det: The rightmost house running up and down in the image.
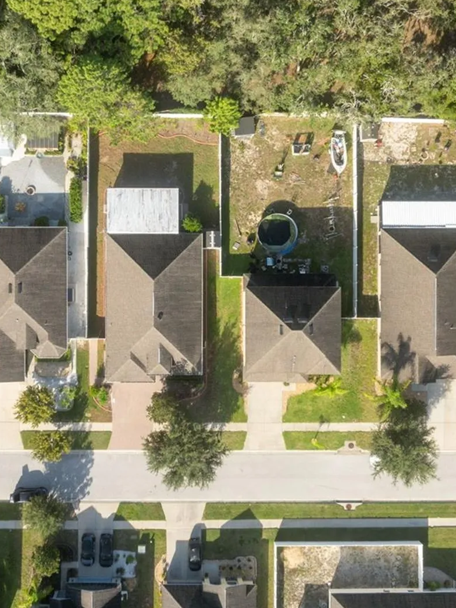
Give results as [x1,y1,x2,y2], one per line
[377,201,456,385]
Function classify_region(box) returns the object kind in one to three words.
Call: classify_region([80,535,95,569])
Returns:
car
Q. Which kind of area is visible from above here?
residential area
